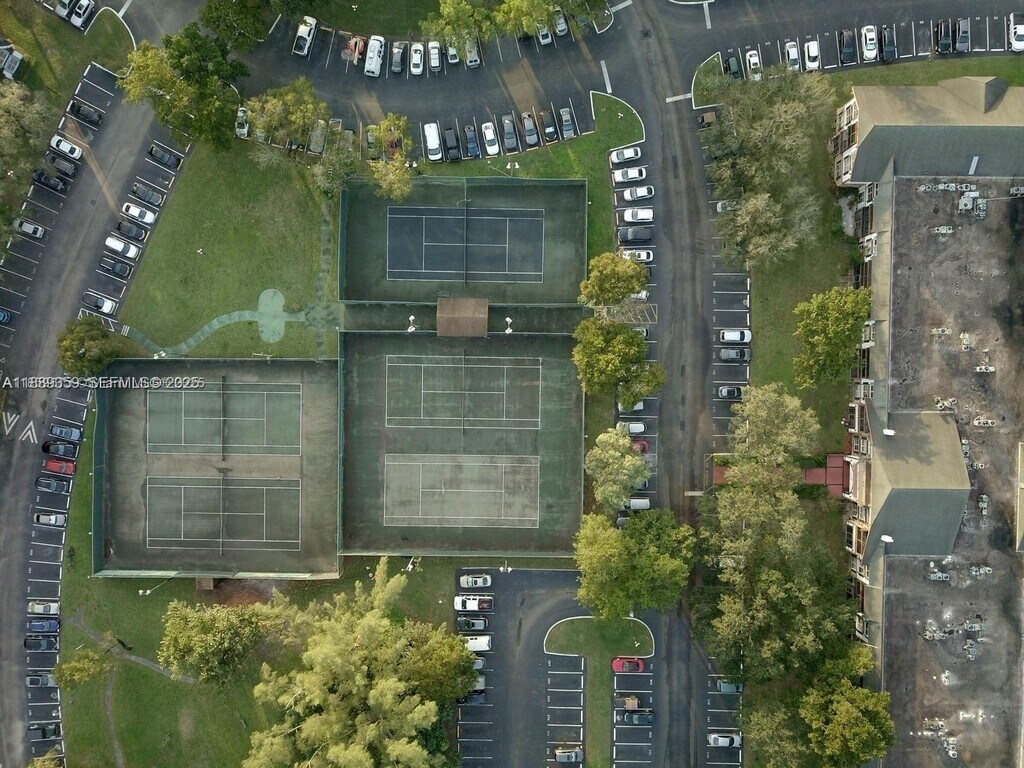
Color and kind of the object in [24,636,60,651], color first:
black vehicle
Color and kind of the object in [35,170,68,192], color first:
black car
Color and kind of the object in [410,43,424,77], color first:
white car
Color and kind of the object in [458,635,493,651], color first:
white vehicle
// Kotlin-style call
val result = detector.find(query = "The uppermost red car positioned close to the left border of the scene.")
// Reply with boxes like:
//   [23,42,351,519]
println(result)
[44,458,77,475]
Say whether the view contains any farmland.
No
